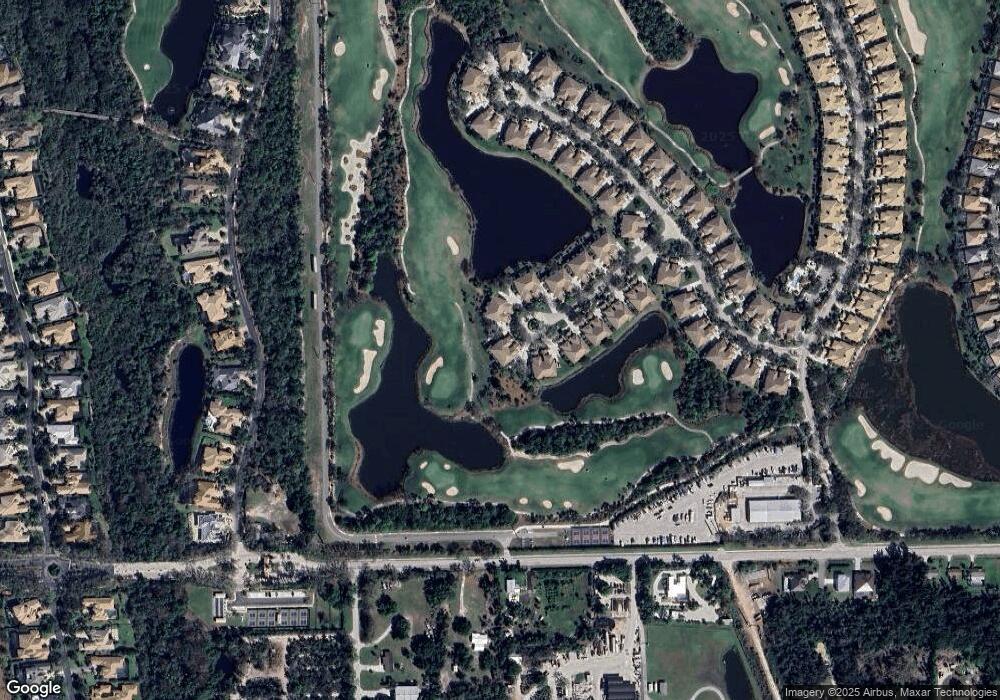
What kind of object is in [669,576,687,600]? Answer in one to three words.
building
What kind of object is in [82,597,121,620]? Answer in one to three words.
house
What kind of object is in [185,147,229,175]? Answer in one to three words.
house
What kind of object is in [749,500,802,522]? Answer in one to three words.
building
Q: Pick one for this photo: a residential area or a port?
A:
residential area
